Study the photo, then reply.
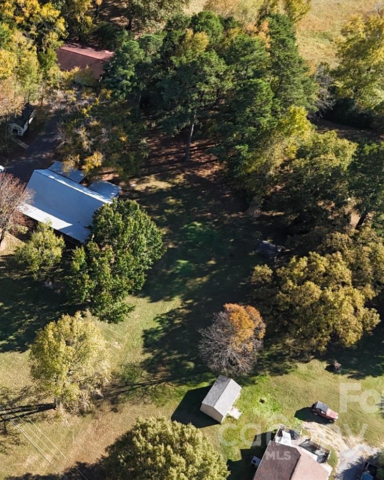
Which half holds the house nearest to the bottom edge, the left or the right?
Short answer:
right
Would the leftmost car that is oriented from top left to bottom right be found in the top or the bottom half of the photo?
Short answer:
bottom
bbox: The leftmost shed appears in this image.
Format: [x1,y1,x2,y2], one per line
[6,103,36,138]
